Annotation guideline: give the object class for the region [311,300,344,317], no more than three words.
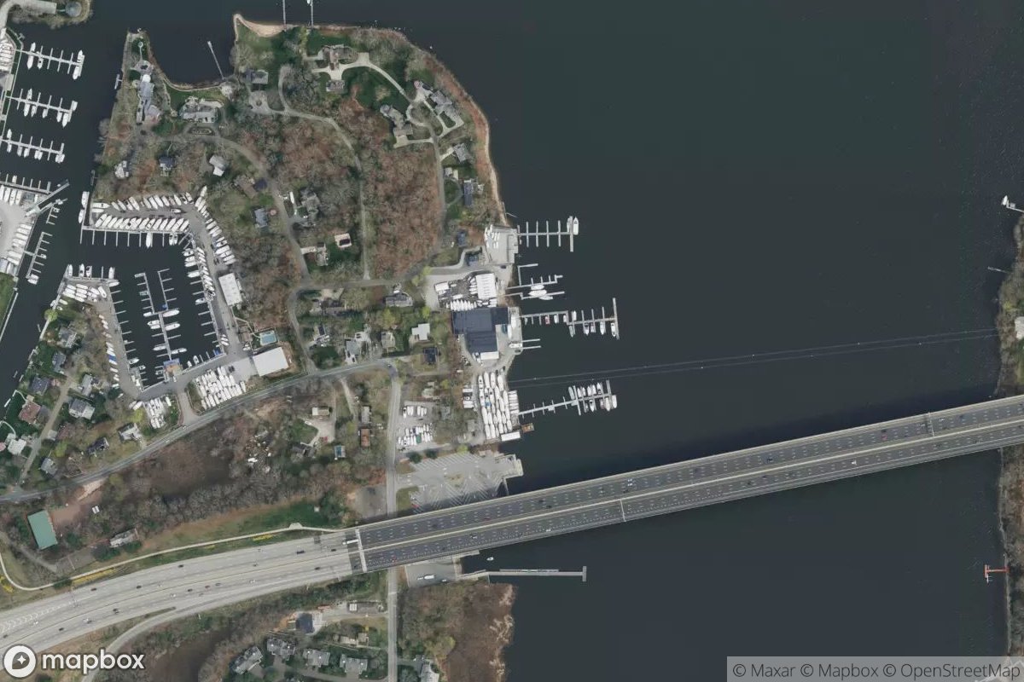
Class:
house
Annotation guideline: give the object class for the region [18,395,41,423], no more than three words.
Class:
house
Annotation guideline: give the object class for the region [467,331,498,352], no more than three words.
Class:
building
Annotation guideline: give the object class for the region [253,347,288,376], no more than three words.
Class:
building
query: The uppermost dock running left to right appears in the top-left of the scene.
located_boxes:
[16,45,85,76]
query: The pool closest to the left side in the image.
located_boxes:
[260,332,277,345]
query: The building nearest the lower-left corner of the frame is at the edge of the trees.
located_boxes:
[28,510,57,550]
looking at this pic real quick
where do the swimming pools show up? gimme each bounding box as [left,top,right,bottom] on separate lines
[334,444,344,458]
[260,332,277,345]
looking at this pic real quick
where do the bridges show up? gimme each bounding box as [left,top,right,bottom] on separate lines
[343,395,1024,576]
